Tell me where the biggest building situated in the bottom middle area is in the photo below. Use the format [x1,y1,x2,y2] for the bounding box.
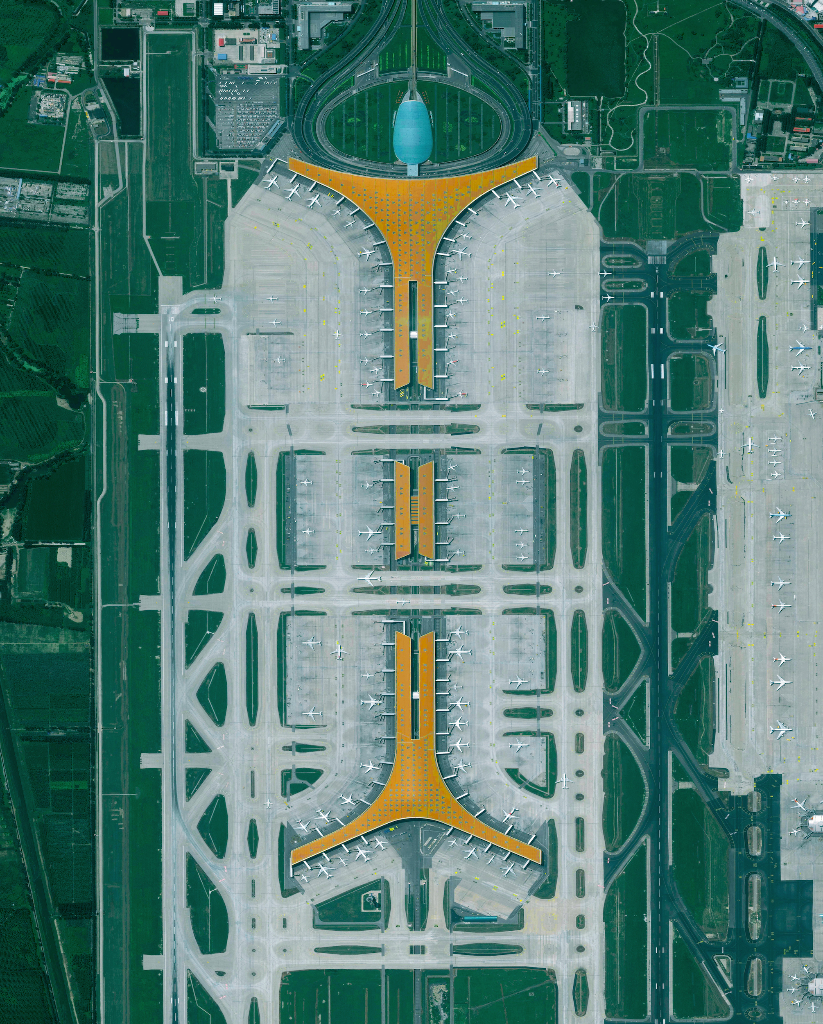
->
[290,631,542,866]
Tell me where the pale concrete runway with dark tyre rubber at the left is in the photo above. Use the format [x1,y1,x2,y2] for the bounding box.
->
[161,305,185,1024]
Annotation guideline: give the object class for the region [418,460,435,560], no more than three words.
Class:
building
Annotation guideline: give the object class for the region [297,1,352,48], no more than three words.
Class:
building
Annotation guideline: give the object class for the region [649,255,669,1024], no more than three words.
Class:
runway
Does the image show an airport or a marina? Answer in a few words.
airport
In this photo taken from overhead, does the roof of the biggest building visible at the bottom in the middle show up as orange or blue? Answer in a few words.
orange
